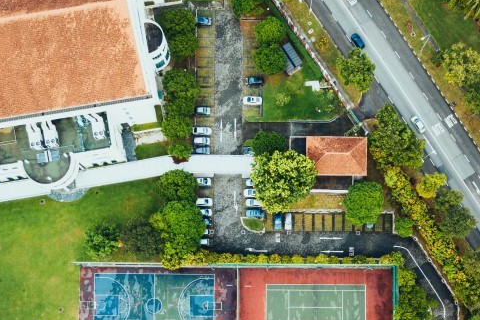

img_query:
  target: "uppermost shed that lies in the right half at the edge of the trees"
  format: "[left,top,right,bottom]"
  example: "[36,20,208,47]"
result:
[280,42,302,74]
